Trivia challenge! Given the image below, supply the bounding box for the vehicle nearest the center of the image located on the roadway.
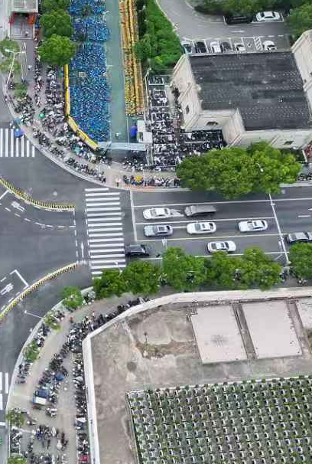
[142,224,174,238]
